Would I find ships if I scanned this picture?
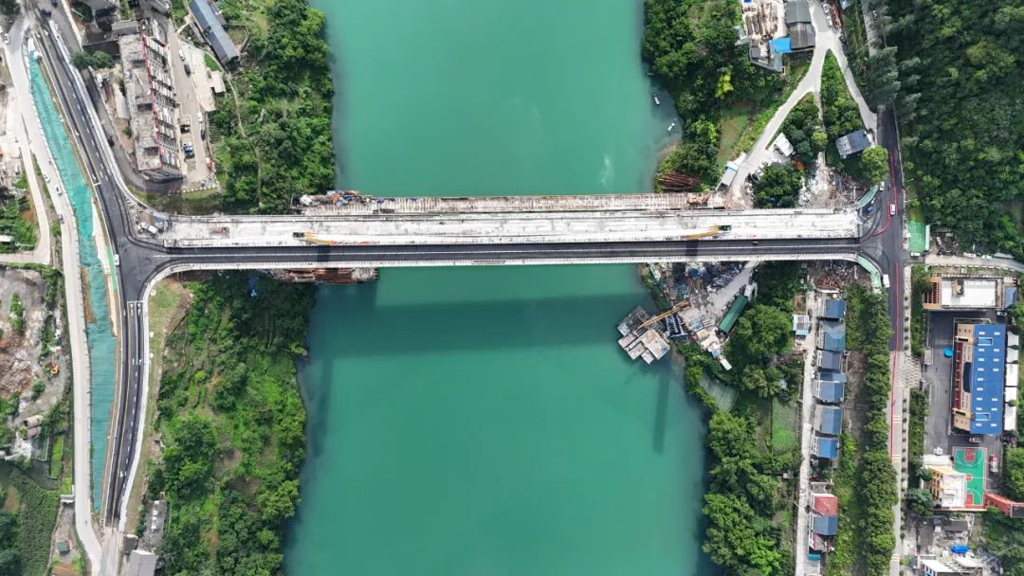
Yes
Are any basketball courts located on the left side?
No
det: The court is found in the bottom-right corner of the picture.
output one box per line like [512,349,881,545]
[953,447,987,511]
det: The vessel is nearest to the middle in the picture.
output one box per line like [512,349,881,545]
[617,305,670,364]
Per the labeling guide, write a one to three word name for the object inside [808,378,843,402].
house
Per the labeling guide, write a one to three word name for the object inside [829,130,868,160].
house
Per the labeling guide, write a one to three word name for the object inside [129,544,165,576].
building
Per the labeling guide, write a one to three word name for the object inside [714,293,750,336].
shed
